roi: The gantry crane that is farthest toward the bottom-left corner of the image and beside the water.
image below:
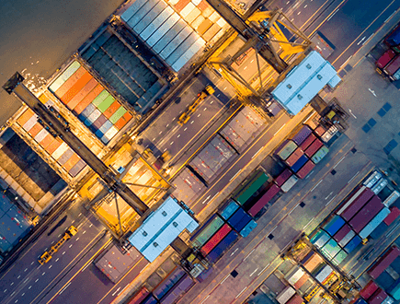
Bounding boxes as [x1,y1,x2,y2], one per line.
[0,71,211,278]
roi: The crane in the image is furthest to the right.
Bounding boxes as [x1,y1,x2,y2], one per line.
[280,229,364,304]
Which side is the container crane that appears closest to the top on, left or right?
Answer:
right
